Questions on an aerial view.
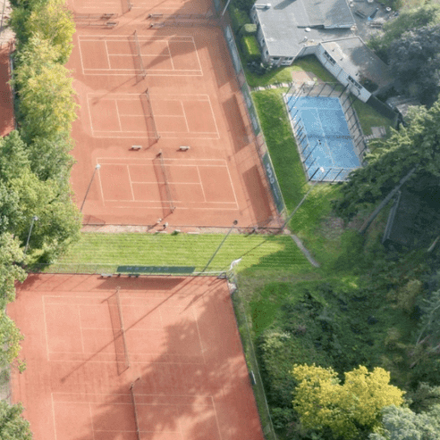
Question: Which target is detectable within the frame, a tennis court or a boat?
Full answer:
Visible in the photo is a tennis court.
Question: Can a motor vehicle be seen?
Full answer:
No, there's no motor vehicle here.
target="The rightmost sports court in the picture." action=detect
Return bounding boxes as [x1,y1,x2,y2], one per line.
[281,80,374,185]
